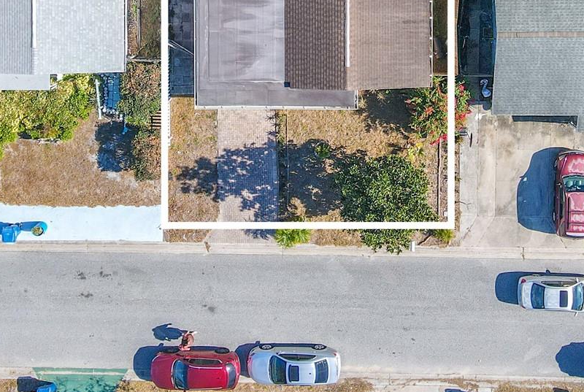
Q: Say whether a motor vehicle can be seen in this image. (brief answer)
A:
Yes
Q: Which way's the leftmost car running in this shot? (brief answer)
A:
horizontally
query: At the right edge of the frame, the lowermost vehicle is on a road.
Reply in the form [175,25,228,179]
[517,271,584,312]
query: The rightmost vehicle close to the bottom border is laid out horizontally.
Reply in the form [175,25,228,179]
[246,343,341,385]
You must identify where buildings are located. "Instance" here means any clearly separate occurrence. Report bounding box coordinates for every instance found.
[493,0,584,132]
[193,0,435,111]
[0,0,131,90]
